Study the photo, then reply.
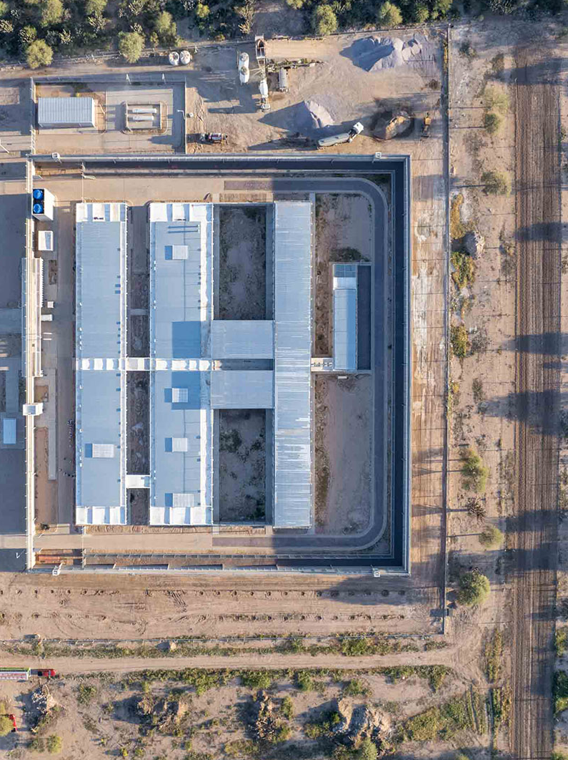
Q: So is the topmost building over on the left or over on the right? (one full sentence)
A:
The topmost building sits on the left side.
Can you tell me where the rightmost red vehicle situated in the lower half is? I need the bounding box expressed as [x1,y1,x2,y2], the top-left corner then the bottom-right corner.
[37,670,57,683]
